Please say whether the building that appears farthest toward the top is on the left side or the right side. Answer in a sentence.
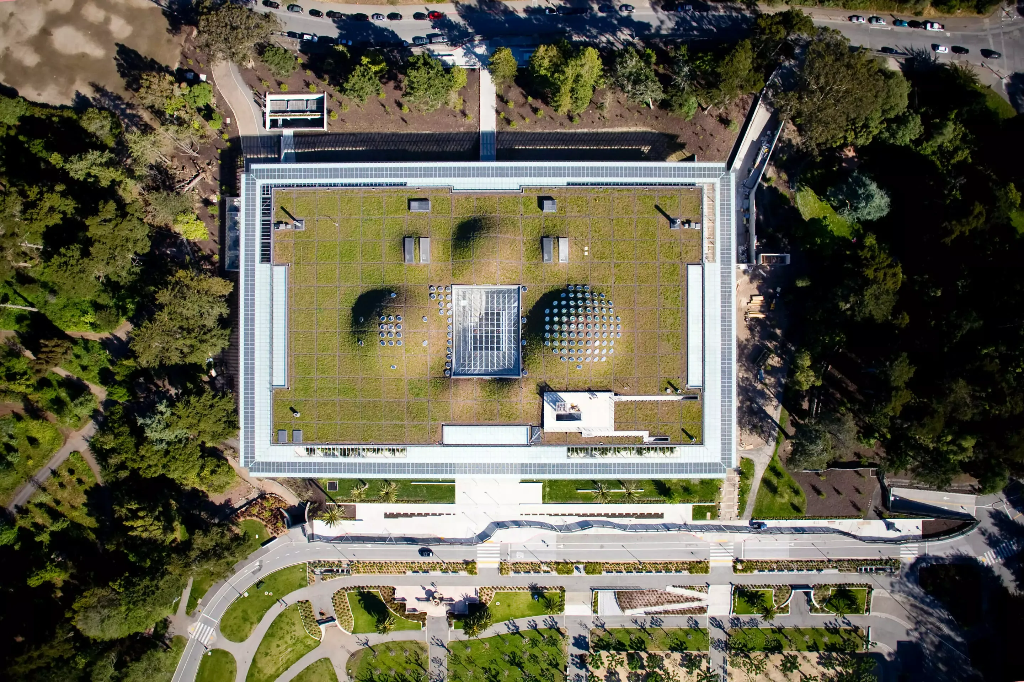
It is on the left.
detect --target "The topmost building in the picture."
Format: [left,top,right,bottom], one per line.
[262,91,329,133]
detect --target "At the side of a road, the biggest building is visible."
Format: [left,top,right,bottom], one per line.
[241,163,735,478]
